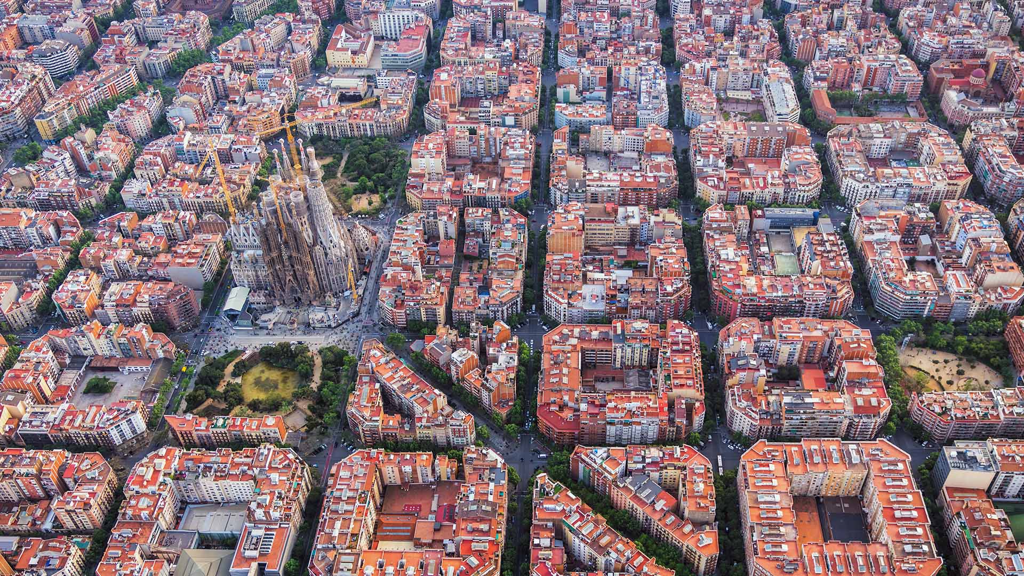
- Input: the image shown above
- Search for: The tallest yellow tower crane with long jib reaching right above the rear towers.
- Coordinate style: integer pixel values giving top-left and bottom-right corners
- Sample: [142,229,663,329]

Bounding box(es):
[253,100,377,175]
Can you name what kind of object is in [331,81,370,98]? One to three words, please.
building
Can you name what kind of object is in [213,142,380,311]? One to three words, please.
church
